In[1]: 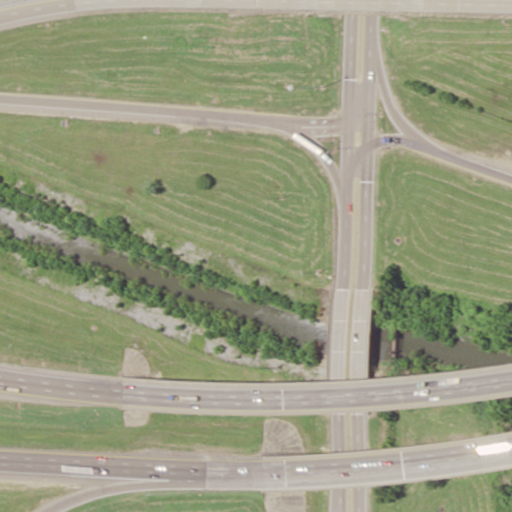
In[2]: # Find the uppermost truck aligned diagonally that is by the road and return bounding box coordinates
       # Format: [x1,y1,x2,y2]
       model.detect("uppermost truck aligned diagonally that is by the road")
[294,134,332,164]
